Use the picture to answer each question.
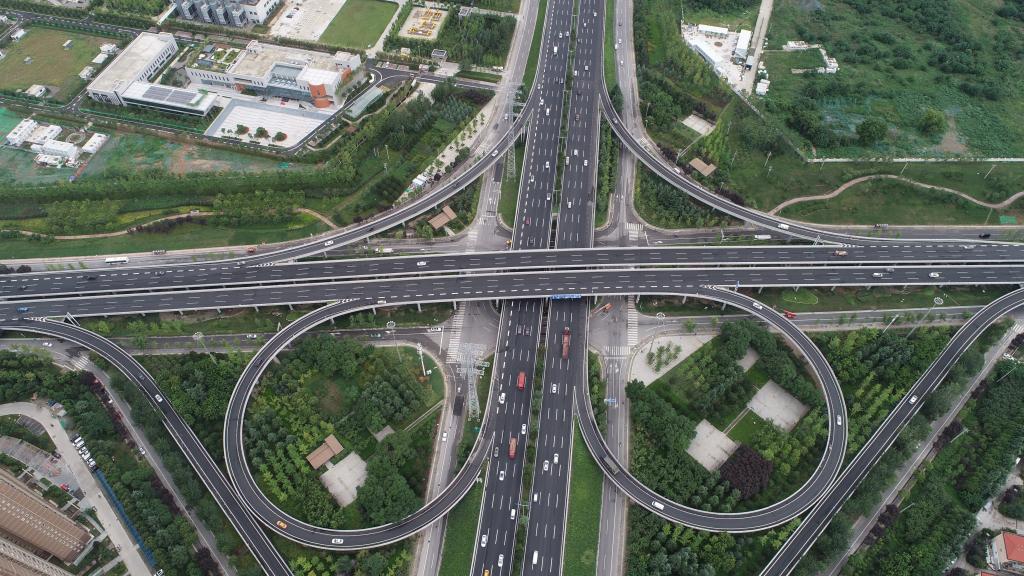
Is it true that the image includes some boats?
No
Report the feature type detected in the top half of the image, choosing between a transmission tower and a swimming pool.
transmission tower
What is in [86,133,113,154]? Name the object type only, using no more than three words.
building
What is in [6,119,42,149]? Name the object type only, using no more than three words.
building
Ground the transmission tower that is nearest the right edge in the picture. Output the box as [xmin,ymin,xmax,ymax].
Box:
[499,82,524,181]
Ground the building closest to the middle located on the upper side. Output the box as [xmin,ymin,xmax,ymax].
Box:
[429,206,454,233]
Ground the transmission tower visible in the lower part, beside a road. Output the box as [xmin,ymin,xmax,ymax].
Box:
[451,335,485,420]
